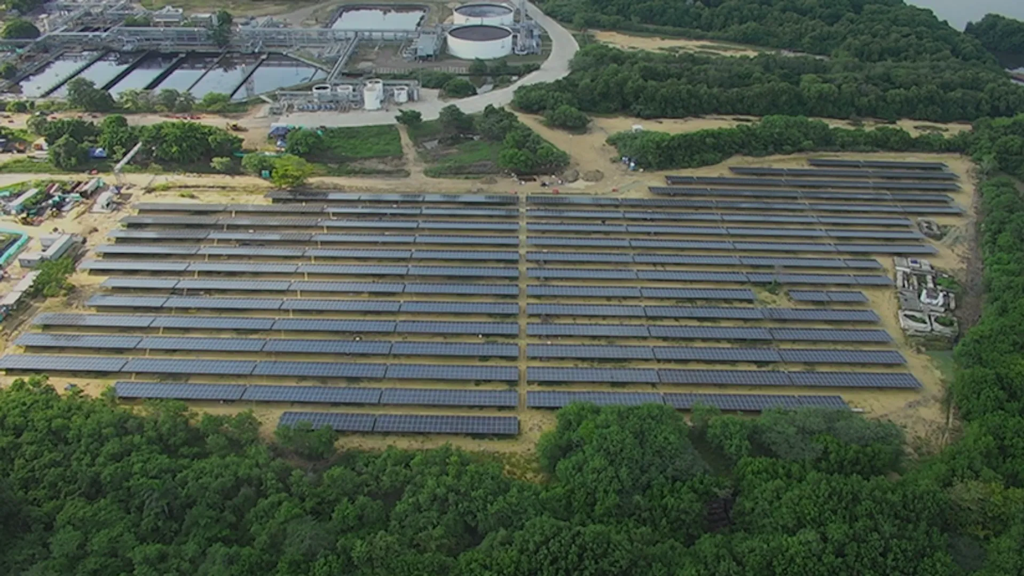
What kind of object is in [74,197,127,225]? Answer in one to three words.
shed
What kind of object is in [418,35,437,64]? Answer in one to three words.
building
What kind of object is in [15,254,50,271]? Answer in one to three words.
building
